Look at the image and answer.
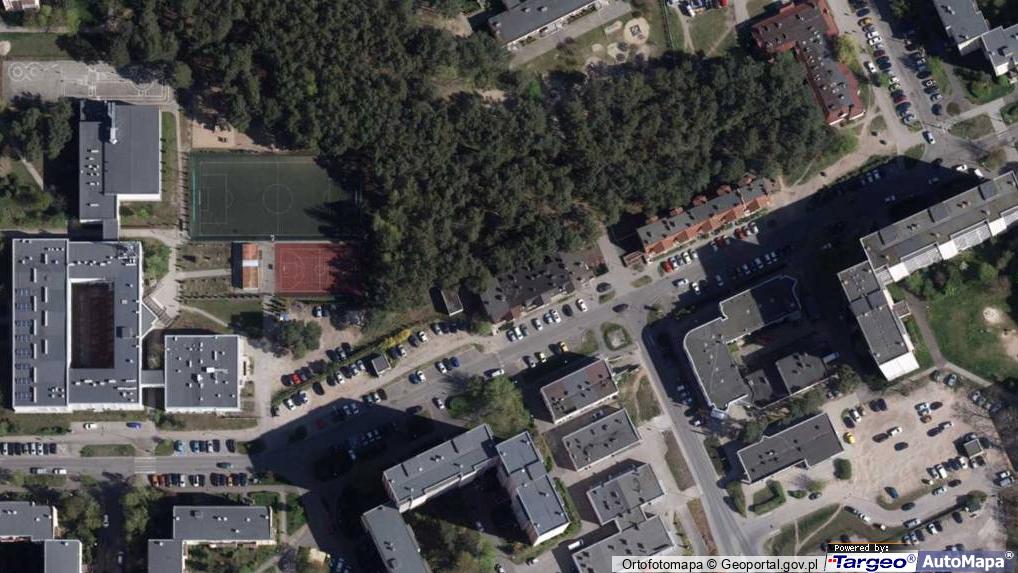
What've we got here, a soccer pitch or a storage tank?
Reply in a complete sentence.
It is a soccer pitch that can be seen here.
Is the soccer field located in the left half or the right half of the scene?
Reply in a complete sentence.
It is on the left.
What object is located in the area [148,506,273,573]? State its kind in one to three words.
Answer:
building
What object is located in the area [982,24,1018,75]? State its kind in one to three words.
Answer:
building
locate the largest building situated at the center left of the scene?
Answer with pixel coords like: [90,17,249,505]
[13,239,157,411]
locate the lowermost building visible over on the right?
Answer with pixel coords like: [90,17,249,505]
[573,516,675,573]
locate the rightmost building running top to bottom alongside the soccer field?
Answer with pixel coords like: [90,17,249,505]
[243,244,258,290]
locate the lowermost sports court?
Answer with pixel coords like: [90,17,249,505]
[274,244,361,293]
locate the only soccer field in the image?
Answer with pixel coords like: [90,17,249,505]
[190,152,362,239]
